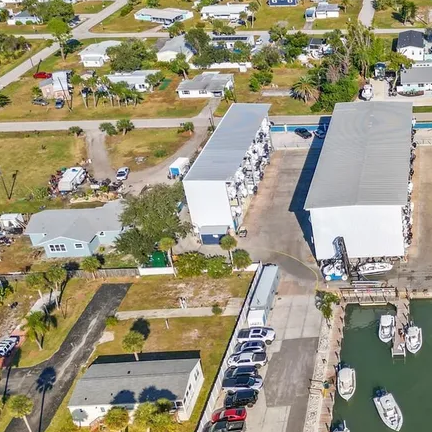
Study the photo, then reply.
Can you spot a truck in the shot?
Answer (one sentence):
Yes, the frame does contain a truck.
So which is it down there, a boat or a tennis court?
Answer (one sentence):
There is a boat in the scene.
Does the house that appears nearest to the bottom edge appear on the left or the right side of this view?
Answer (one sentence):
The house that appears nearest to the bottom edge sits on the left side.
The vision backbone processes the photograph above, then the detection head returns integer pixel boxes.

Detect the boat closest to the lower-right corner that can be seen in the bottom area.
[369,381,401,432]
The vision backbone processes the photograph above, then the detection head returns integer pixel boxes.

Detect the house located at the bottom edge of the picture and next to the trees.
[64,358,201,432]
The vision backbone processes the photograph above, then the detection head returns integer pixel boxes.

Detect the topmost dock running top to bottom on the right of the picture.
[392,299,408,360]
